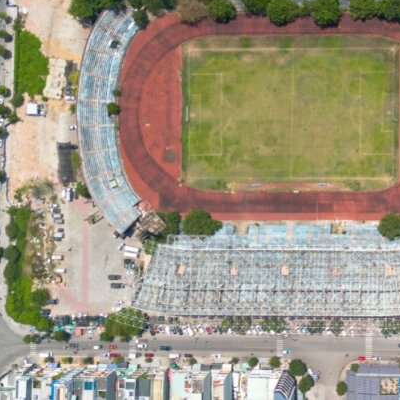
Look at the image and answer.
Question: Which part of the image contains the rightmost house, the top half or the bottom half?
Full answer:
You can find the rightmost house in the bottom half.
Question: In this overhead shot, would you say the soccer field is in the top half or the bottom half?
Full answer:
The soccer field is in the top half of the image.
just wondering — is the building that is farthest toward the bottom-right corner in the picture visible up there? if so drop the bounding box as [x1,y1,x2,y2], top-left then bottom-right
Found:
[345,361,400,400]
